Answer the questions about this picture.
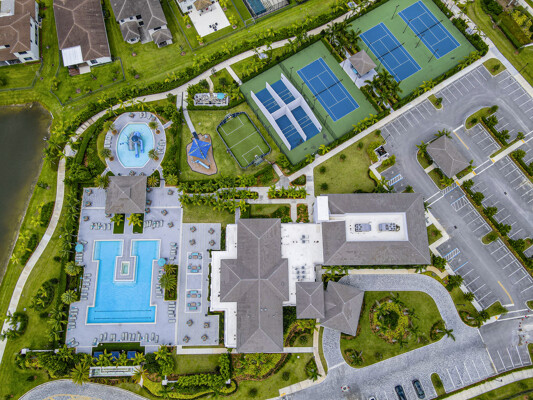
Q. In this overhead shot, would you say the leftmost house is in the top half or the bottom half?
top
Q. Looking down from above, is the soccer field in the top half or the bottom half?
top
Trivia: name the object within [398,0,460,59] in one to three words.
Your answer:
tennis court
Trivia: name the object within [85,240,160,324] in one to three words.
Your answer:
swimming pool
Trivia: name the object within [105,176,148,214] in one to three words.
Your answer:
building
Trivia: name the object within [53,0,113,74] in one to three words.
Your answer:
house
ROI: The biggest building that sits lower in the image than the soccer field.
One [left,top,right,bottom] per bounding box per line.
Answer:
[210,193,430,353]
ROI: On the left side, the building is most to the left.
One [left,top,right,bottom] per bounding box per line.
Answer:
[0,0,42,65]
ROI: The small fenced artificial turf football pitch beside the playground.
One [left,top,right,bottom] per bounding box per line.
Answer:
[217,110,271,168]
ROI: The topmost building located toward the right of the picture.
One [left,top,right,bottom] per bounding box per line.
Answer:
[349,50,376,79]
